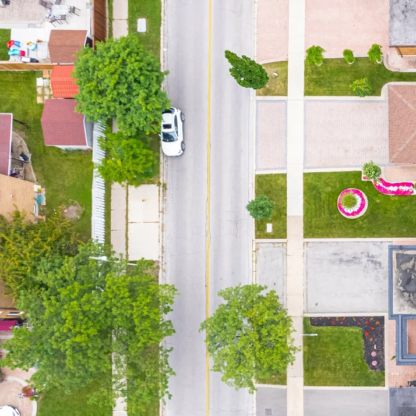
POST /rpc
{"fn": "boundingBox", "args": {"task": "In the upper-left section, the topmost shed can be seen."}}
[45,29,97,66]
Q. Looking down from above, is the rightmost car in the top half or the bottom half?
top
